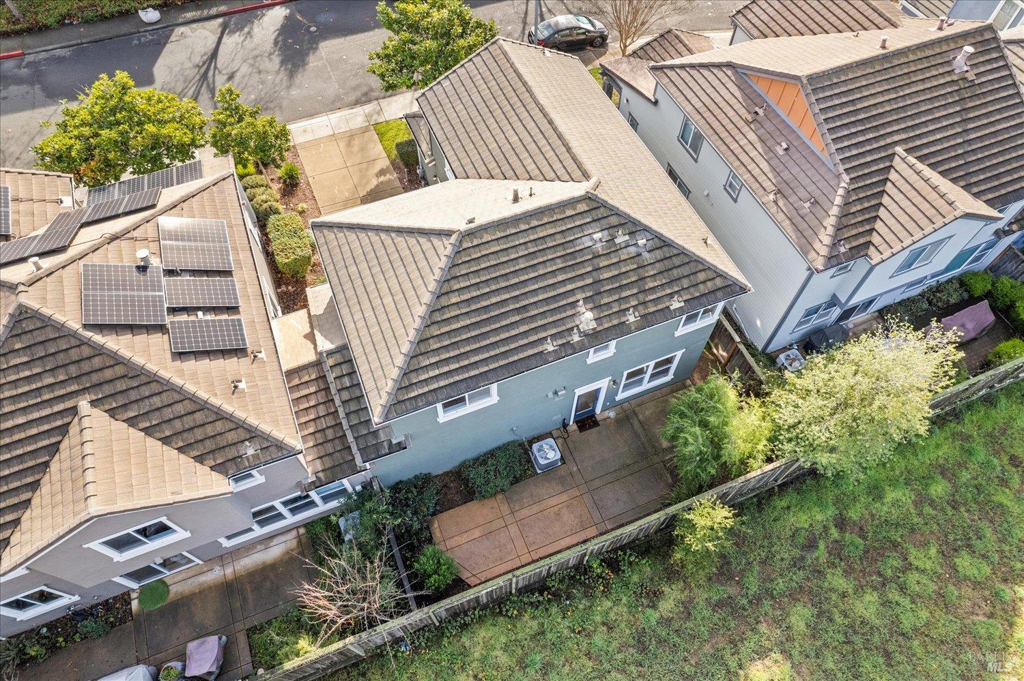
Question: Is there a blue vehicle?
No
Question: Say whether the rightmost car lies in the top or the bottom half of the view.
top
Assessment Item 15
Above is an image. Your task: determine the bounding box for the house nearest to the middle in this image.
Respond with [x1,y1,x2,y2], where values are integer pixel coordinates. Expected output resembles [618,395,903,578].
[307,33,757,489]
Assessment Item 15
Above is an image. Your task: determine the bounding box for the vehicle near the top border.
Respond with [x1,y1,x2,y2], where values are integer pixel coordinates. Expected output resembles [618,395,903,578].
[529,14,609,51]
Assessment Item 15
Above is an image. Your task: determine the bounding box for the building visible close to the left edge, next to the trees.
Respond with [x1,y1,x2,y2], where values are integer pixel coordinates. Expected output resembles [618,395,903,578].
[0,147,381,643]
